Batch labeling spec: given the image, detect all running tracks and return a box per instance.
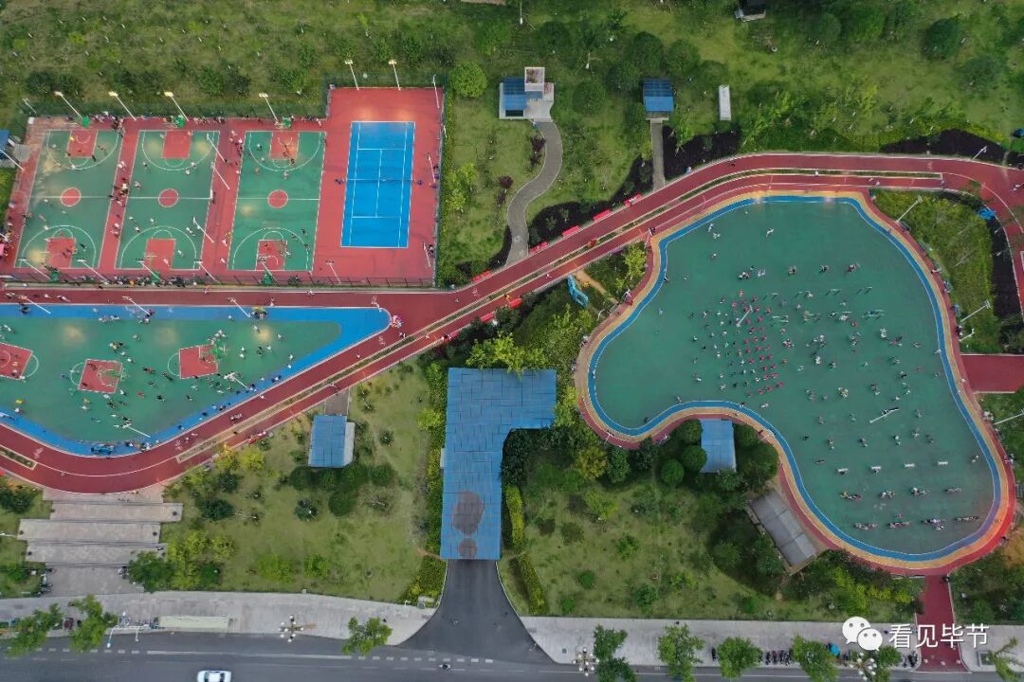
[0,152,1024,495]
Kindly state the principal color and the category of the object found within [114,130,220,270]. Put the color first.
green basketball court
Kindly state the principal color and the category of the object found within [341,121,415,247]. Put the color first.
blue tennis court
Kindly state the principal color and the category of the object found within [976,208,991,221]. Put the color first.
blue umbrella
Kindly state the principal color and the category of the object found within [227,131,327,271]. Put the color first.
green basketball court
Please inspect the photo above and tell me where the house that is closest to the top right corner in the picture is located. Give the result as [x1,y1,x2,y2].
[736,0,765,29]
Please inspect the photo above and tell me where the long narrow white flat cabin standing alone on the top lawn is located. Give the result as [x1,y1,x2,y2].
[715,86,731,128]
